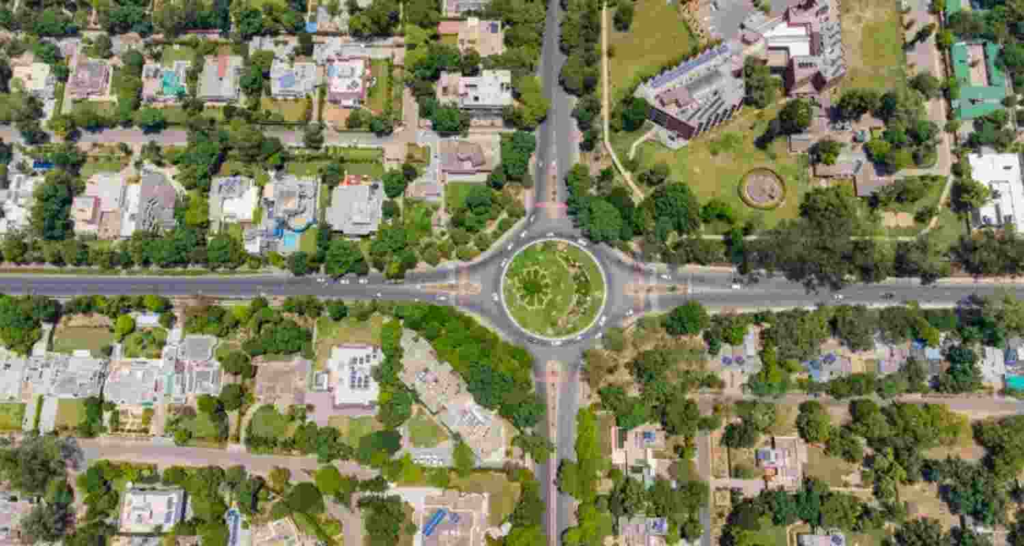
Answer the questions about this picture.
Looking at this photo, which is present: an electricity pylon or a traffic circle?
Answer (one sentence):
Of the two, only a traffic circle appears.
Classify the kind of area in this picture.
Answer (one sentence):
The area seen from above is a residential area.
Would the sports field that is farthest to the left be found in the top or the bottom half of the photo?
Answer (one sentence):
The top half of the photo is where the sports field that is farthest to the left is.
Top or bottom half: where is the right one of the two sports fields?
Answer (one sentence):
The right one of the two sports fields sits in the top half of the picture.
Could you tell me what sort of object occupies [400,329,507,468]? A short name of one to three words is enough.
building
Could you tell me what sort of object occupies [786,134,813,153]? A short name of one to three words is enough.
shed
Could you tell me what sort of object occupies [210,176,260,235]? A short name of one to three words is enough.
house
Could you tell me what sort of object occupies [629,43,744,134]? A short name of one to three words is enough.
building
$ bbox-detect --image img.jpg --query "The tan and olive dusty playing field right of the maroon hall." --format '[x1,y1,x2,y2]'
[843,0,902,91]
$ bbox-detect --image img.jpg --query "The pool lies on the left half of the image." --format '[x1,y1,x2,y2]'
[285,229,299,248]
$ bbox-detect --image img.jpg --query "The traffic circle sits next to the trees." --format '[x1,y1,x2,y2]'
[502,237,606,341]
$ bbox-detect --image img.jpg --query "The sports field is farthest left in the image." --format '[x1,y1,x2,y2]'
[607,0,683,87]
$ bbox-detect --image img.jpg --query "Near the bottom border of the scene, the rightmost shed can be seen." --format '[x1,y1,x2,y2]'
[960,511,989,531]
